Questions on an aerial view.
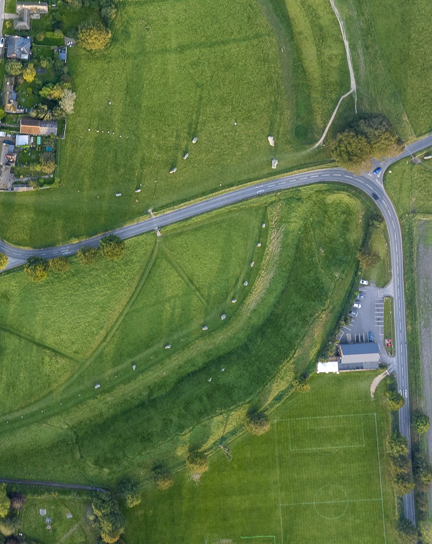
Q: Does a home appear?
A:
Yes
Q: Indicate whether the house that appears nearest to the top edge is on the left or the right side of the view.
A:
left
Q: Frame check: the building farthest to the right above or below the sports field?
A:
above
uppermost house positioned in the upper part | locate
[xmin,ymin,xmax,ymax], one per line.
[16,3,48,30]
